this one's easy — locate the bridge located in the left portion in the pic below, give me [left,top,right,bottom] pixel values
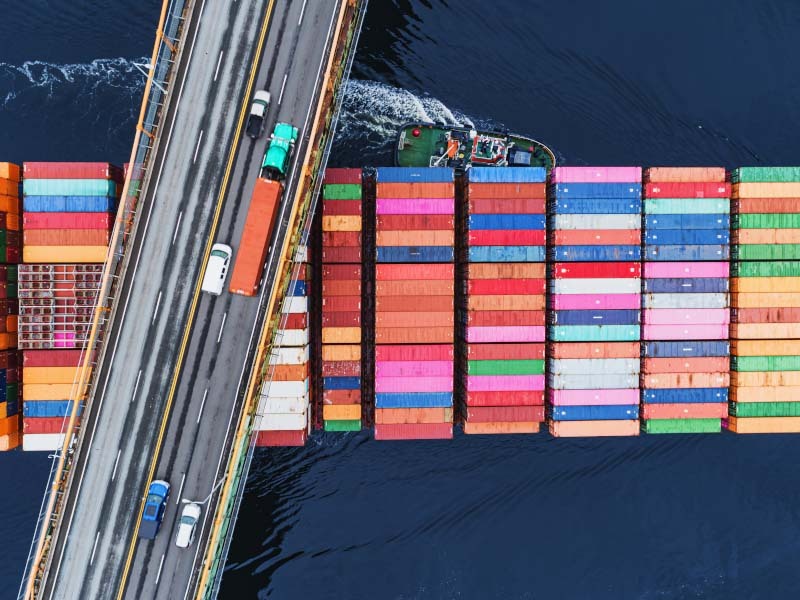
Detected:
[14,0,377,600]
